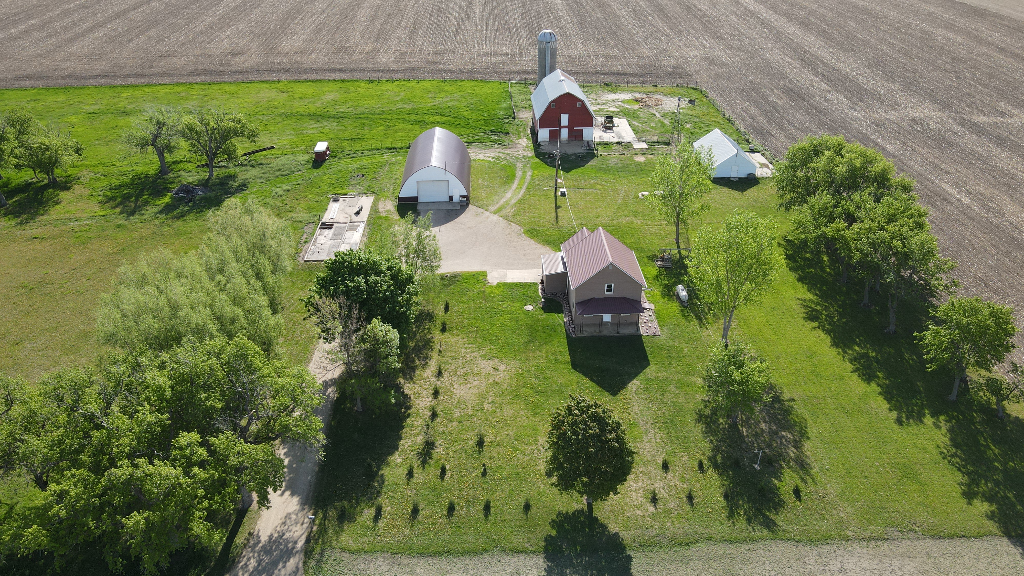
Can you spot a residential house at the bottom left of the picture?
No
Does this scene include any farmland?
Yes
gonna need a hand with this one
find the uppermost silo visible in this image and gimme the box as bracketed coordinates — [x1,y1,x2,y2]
[538,31,559,83]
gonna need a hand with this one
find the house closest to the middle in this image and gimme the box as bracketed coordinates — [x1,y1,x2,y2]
[541,226,649,336]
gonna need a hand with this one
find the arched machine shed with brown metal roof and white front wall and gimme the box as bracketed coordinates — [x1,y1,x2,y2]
[397,126,472,203]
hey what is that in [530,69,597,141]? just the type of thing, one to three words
barn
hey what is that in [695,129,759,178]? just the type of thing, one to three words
shed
